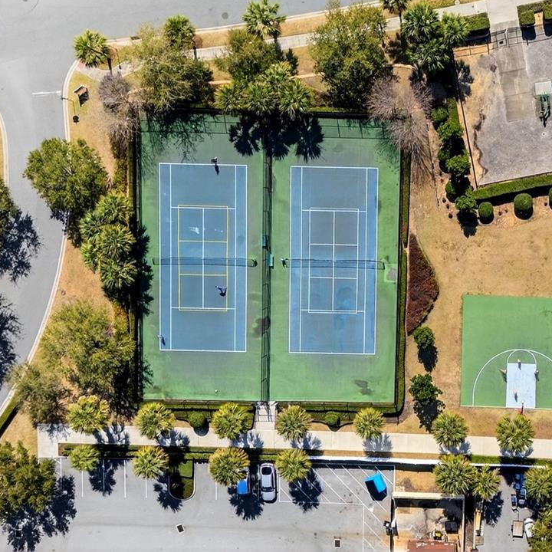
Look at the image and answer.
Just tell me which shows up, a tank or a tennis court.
tennis court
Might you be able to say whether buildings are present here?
No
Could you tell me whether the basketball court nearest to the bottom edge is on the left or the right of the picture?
right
